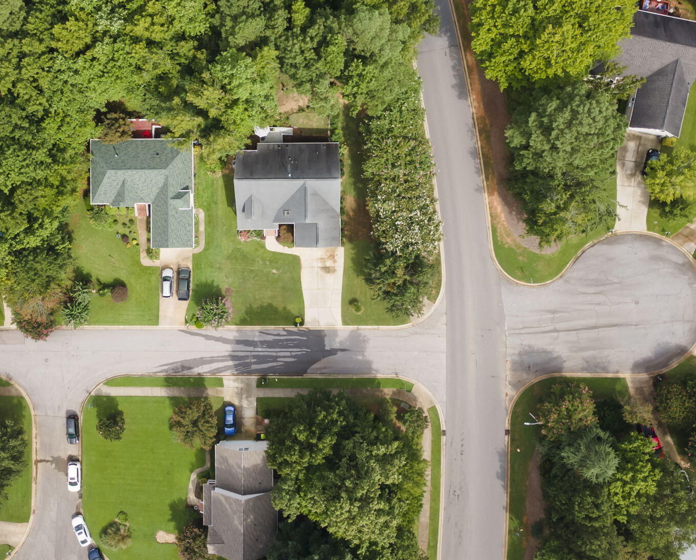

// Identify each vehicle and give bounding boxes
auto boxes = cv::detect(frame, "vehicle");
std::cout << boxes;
[87,547,103,560]
[176,266,191,300]
[66,461,82,492]
[160,267,174,299]
[222,404,236,435]
[639,149,656,182]
[64,414,80,445]
[72,514,92,548]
